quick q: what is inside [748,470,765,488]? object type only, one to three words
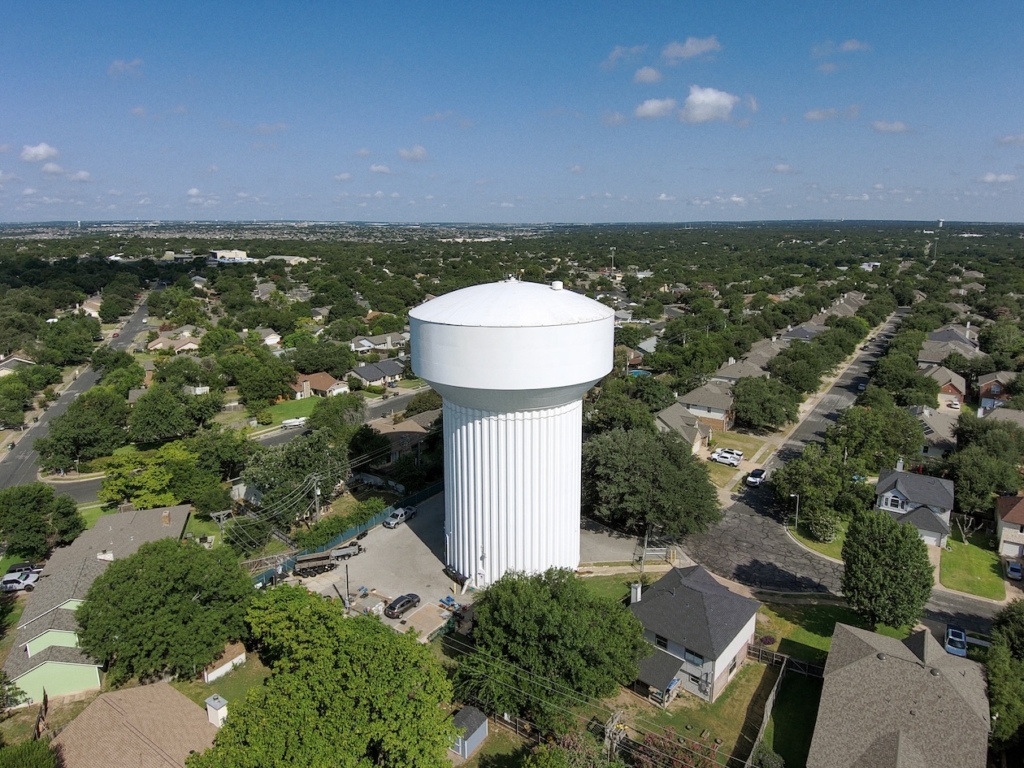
car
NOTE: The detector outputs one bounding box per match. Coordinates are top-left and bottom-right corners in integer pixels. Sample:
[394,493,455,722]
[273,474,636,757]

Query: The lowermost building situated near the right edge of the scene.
[806,623,1000,768]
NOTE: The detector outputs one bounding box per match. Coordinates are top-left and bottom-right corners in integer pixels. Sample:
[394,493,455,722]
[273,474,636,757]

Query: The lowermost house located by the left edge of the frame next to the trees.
[51,683,248,768]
